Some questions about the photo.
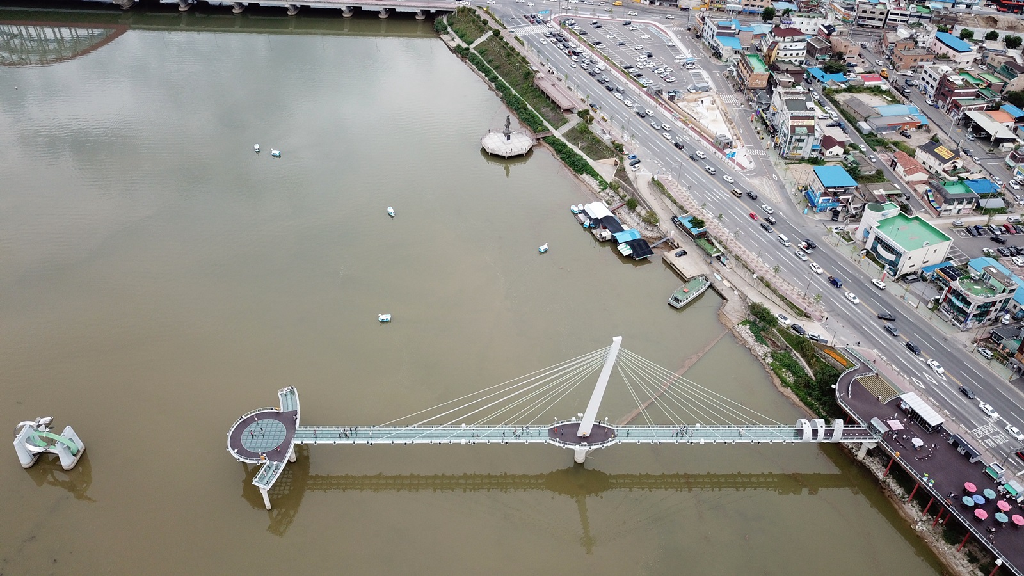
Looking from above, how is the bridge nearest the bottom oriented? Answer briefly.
from left to right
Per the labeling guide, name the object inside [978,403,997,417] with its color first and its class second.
white car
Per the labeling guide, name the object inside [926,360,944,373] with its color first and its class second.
white vehicle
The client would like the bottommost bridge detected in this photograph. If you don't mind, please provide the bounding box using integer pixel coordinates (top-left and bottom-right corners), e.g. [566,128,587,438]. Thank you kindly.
[225,334,880,512]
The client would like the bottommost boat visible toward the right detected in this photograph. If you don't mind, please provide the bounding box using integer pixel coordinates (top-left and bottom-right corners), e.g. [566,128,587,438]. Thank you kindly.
[663,273,707,305]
